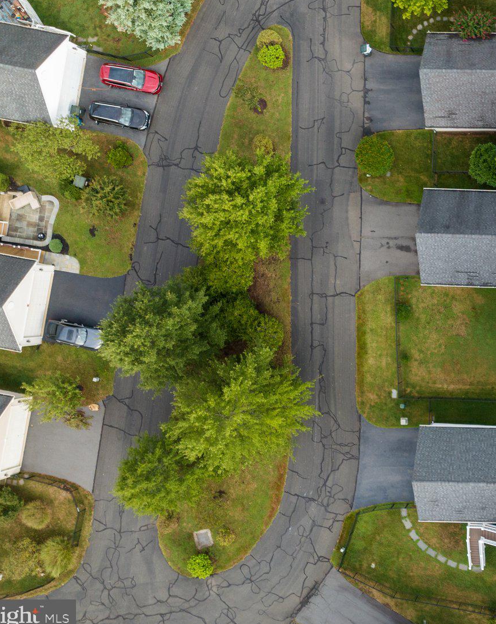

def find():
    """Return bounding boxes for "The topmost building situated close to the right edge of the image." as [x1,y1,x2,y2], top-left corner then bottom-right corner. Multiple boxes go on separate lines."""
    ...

[419,32,496,133]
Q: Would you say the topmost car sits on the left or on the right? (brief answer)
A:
left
